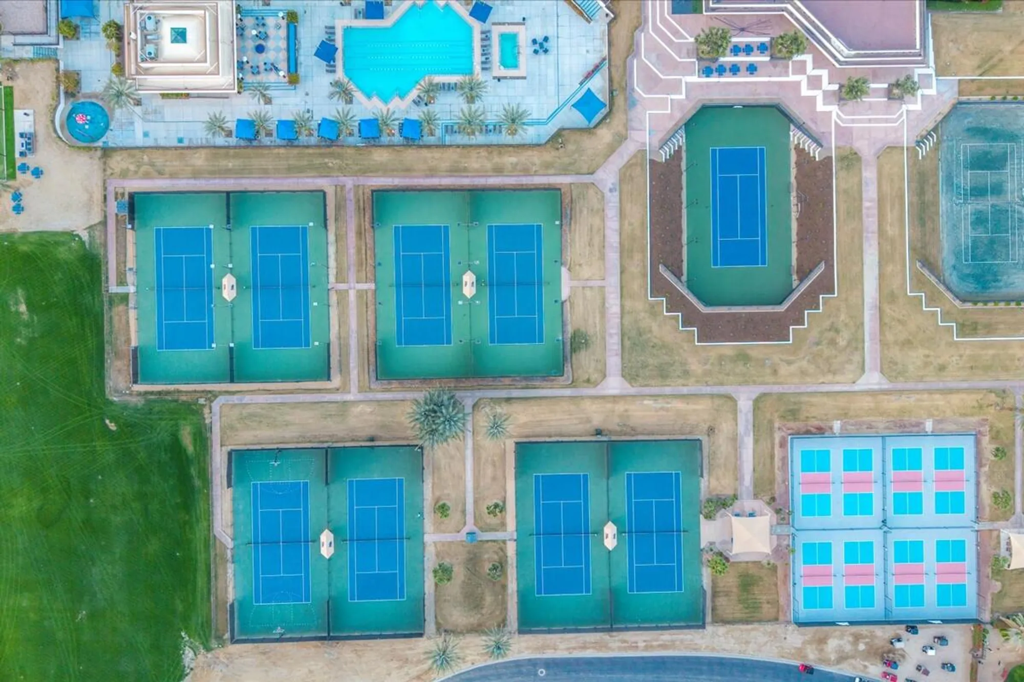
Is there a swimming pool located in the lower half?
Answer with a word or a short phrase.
No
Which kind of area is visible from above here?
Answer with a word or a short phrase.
sports ground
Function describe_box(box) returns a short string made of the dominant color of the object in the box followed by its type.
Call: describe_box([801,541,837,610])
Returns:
blue sports court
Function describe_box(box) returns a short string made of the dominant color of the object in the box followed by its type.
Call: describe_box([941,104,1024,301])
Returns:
blue tennis court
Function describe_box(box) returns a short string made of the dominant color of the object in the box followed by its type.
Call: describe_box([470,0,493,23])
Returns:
blue umbrella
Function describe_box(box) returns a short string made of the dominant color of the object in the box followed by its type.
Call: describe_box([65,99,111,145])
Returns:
blue swimming pool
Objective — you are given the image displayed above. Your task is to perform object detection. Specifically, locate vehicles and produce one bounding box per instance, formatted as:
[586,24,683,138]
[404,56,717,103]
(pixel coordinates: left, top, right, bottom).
[915,663,932,678]
[891,637,908,652]
[798,662,814,676]
[923,643,940,658]
[932,635,950,649]
[904,625,921,638]
[853,677,867,682]
[885,658,902,673]
[940,660,958,674]
[881,669,898,682]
